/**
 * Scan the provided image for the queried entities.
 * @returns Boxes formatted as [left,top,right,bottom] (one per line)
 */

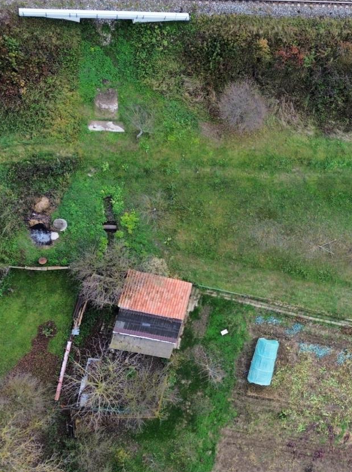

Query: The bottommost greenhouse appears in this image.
[242,337,277,388]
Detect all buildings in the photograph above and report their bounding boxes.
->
[109,270,205,359]
[242,337,277,388]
